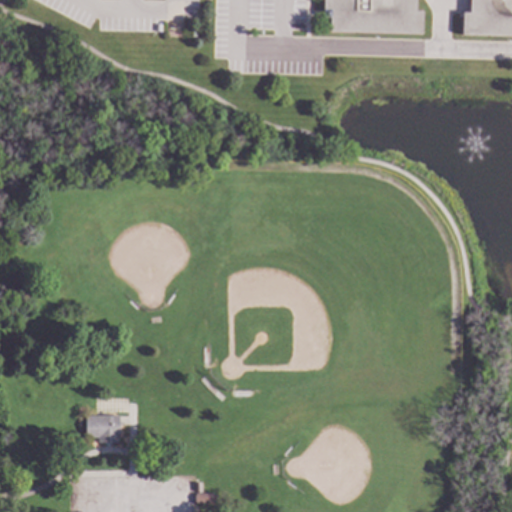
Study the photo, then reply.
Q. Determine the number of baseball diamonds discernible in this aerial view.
3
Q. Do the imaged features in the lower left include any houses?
Yes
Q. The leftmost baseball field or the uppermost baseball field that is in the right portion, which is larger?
the uppermost baseball field that is in the right portion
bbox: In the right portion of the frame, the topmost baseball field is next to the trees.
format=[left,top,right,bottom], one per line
[214,164,460,415]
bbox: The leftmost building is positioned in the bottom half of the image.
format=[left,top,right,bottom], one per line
[86,415,119,444]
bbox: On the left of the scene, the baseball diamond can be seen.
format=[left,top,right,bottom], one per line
[111,222,190,308]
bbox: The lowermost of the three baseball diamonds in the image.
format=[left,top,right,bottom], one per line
[286,424,372,505]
